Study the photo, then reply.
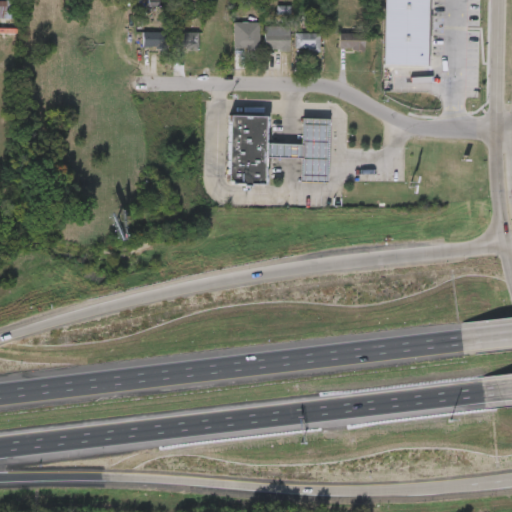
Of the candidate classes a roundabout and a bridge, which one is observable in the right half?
bridge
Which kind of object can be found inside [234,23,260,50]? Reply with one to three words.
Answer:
house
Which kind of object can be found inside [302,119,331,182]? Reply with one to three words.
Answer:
building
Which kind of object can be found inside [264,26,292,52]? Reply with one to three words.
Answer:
house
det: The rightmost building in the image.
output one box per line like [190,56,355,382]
[384,0,431,70]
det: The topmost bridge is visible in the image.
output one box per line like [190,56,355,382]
[463,316,512,354]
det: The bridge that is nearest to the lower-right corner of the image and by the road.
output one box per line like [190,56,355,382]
[484,374,512,410]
